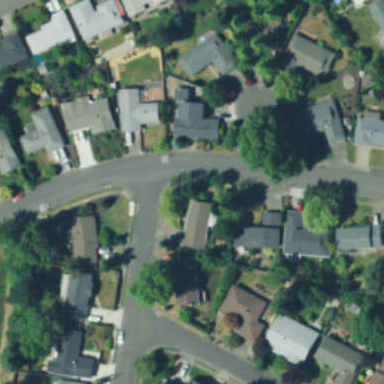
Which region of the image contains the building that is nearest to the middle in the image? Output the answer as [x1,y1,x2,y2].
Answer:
[183,199,209,250]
